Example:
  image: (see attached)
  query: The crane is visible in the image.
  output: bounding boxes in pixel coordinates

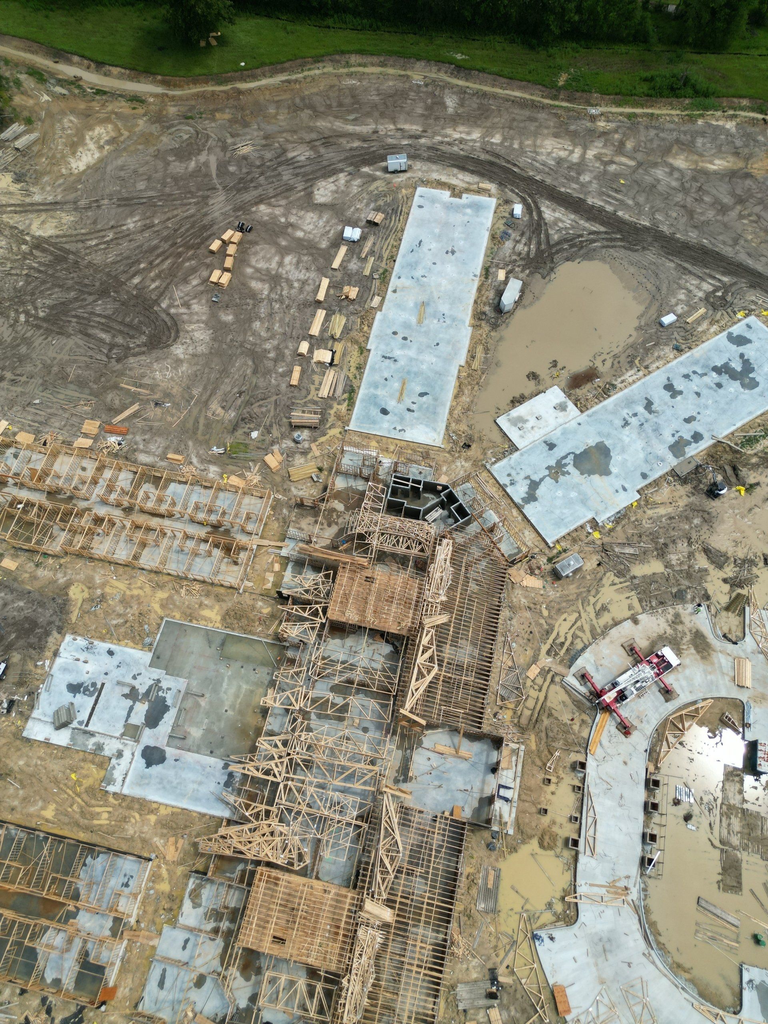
[576,639,688,730]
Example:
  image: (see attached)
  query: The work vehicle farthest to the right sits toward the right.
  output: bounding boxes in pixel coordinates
[697,463,726,499]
